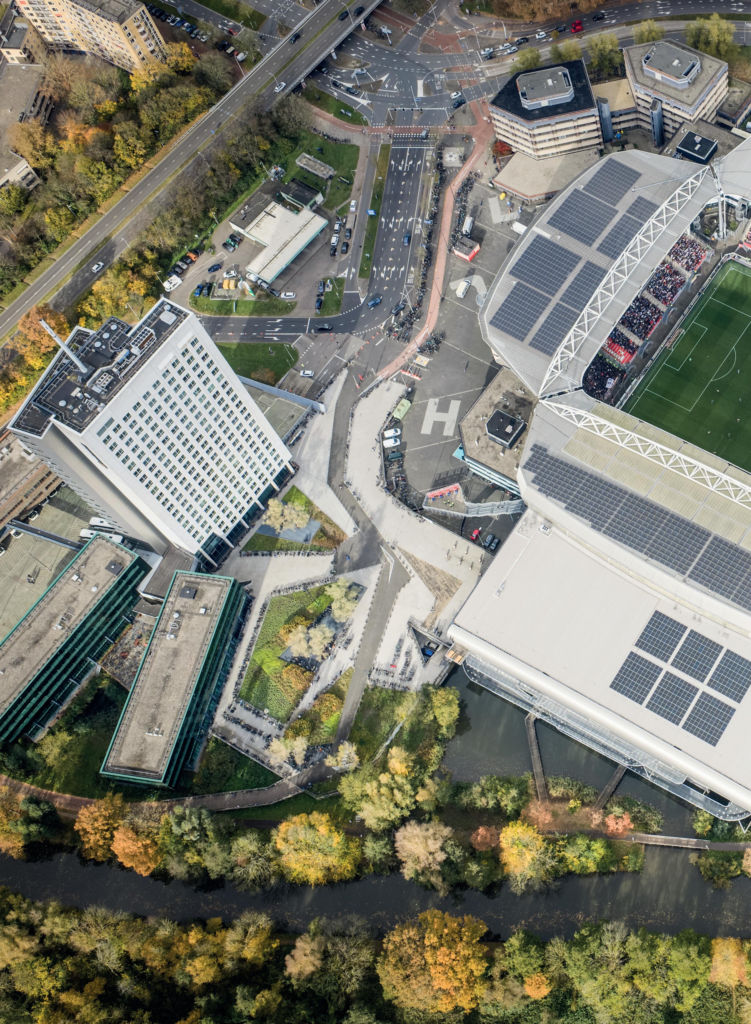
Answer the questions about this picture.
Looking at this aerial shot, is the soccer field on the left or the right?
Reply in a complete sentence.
The soccer field is on the right side of the image.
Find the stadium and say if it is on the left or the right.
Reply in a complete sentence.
It is on the right.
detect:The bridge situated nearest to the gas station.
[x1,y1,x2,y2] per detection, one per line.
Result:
[218,0,388,122]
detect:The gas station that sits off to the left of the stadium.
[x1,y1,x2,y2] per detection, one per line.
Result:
[228,192,330,284]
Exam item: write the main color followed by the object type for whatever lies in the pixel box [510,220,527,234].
white vehicle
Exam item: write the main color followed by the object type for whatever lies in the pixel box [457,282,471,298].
white vehicle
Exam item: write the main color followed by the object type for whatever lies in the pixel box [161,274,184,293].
white camper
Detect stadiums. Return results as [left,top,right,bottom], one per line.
[480,136,751,636]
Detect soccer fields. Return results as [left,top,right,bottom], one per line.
[620,261,751,477]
